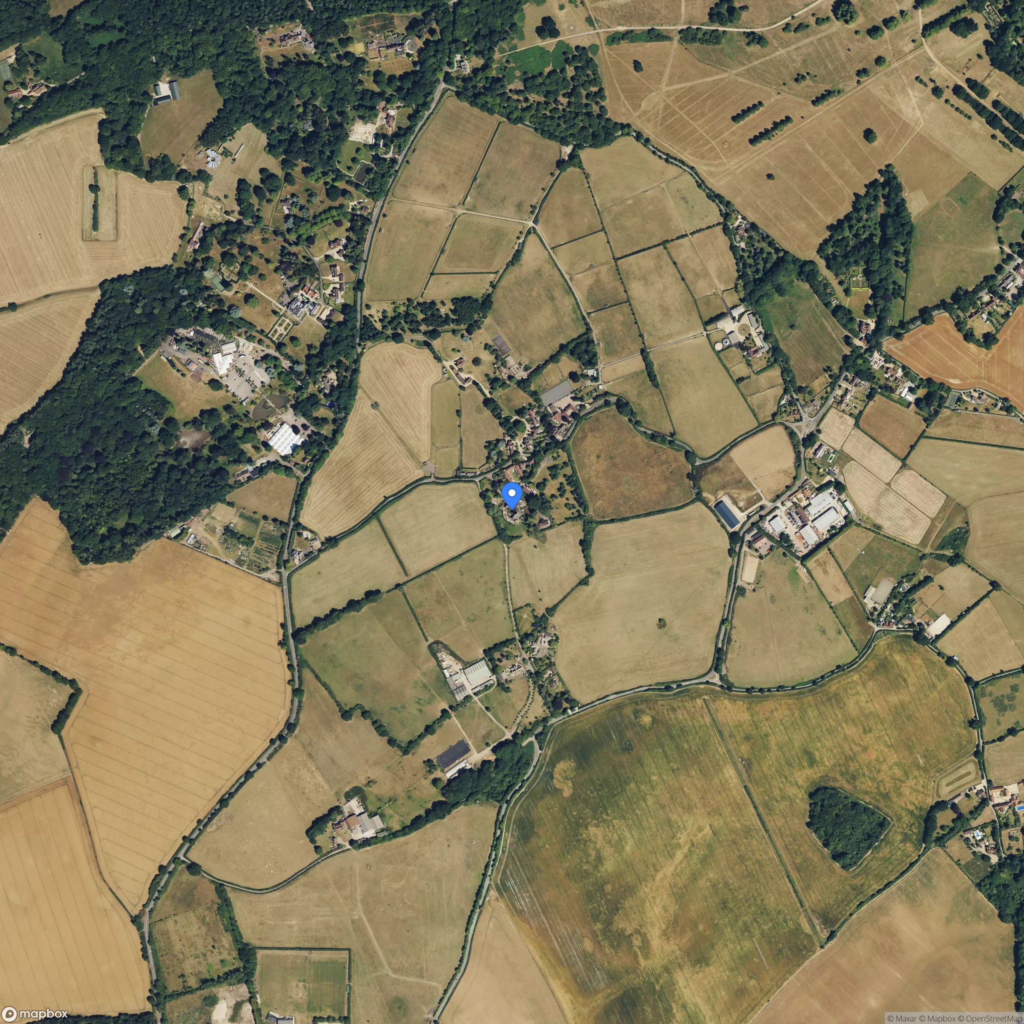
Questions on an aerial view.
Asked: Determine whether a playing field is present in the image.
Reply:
Yes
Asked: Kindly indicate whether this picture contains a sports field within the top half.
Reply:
No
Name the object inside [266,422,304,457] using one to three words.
building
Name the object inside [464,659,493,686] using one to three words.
building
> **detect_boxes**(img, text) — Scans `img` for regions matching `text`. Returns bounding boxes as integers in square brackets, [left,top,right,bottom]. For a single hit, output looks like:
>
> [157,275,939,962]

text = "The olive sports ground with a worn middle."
[257,951,347,1017]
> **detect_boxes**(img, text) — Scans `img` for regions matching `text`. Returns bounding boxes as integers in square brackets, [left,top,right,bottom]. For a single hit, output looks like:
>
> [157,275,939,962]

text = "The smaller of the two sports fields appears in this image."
[308,959,348,1015]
